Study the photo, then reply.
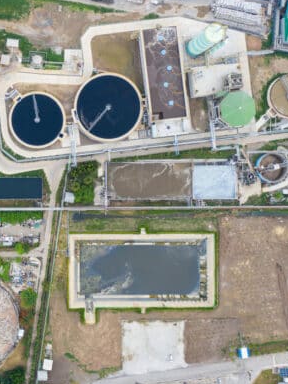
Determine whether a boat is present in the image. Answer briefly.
No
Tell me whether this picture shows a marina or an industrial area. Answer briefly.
industrial area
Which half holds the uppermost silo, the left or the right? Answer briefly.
right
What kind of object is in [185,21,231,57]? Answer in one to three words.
silo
